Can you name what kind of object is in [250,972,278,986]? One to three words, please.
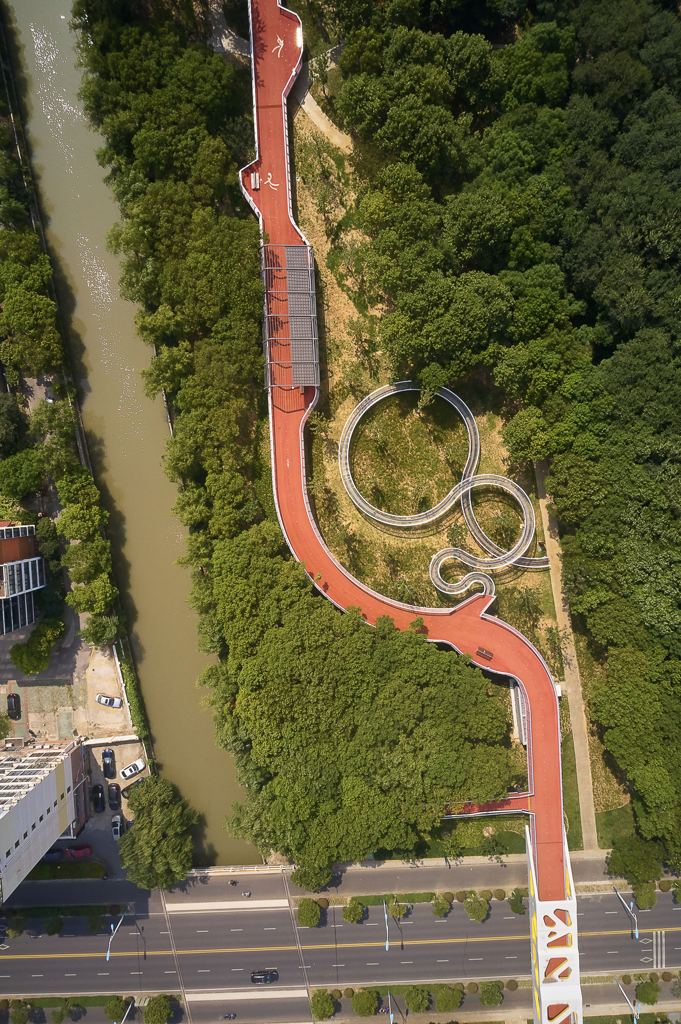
car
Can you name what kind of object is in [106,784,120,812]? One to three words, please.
car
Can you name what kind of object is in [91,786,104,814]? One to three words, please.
vehicle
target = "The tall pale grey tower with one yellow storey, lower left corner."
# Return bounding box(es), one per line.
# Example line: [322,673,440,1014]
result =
[0,734,91,902]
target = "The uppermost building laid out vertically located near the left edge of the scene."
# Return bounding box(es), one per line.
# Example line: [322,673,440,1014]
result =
[0,524,46,637]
